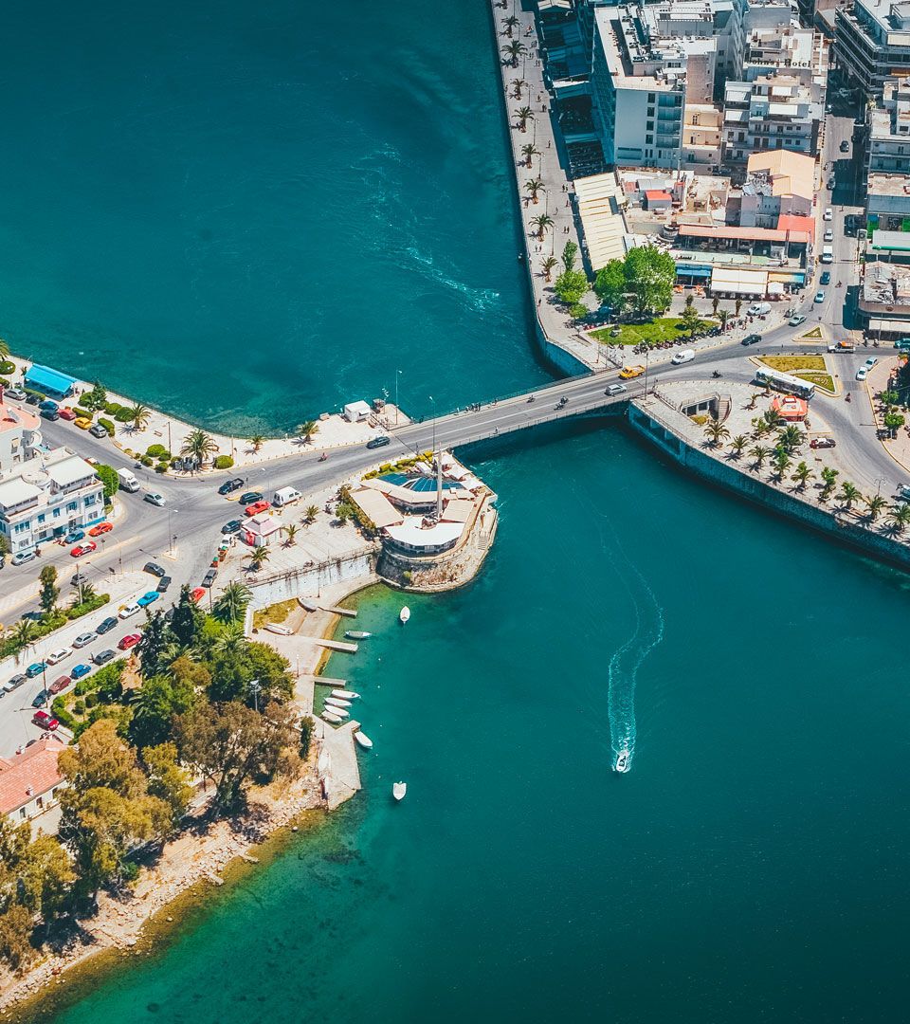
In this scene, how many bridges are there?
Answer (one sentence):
I count just 1 bridge.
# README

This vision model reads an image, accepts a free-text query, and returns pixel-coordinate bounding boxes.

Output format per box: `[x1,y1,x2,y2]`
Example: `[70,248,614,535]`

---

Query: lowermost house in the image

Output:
[0,738,61,832]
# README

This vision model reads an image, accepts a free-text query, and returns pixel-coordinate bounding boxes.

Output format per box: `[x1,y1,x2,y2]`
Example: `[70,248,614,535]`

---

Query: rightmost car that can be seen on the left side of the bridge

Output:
[366,435,391,449]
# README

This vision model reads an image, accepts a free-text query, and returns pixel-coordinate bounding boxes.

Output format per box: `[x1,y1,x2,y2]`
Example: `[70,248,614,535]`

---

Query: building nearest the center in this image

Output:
[350,451,494,558]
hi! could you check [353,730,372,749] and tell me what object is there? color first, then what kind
white boat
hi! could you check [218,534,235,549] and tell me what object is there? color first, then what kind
white vehicle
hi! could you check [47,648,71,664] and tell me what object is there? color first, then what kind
white car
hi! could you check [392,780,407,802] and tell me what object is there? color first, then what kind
white boat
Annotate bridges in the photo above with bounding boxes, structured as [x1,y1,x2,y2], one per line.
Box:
[408,367,632,457]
